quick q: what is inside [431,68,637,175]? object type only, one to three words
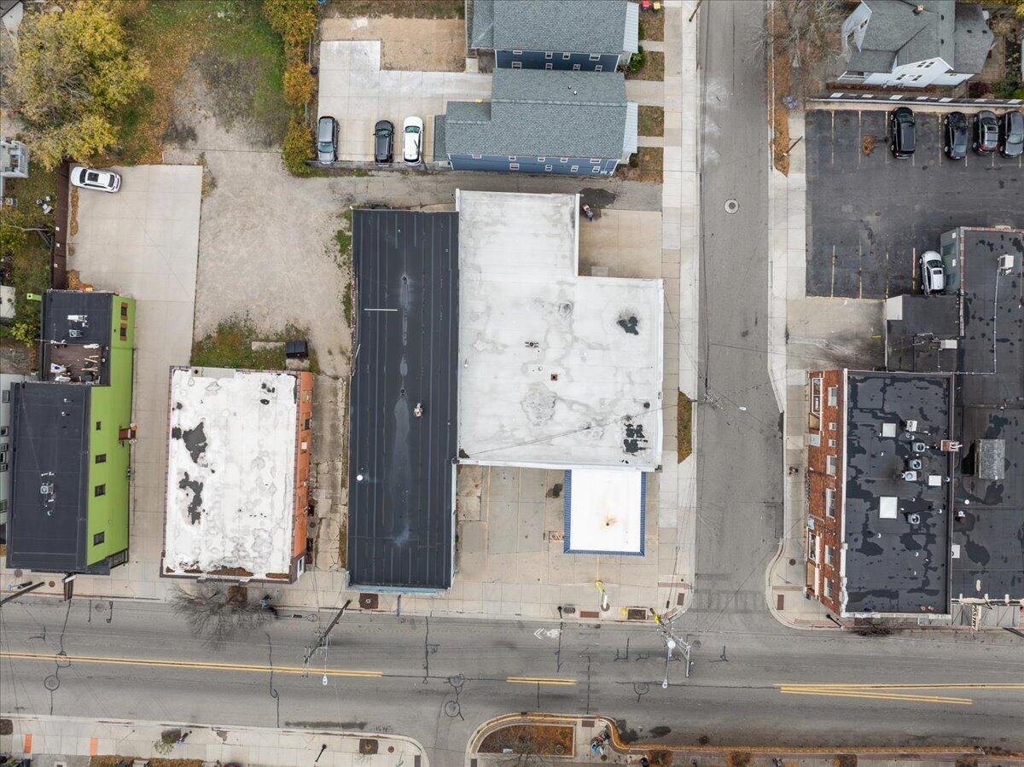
house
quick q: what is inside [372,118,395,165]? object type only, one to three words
car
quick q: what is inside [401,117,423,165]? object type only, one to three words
car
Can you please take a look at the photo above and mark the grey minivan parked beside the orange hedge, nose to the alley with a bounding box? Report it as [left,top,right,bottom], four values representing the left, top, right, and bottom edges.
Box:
[315,114,339,165]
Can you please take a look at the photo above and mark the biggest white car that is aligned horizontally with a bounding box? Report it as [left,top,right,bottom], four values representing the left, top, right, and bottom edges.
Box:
[70,164,121,191]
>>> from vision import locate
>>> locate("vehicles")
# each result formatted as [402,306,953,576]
[372,118,395,165]
[70,164,121,191]
[889,107,917,158]
[971,110,998,157]
[919,251,946,295]
[315,114,339,165]
[401,117,423,165]
[997,109,1024,159]
[942,110,968,160]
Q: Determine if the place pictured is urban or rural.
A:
urban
